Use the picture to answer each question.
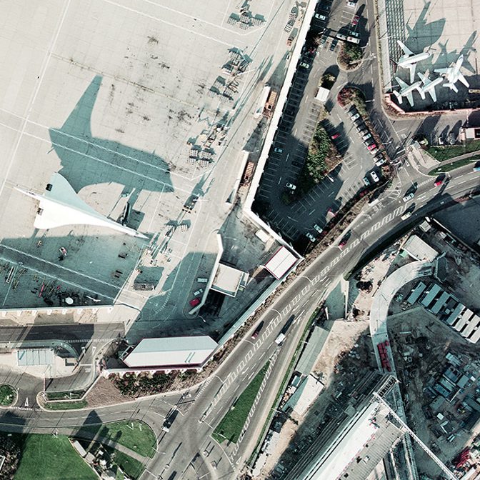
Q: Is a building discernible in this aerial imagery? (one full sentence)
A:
Yes, there's a building here.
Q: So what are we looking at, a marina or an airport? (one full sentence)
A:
This looks like an airport.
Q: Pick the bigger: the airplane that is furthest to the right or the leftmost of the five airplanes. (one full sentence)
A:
The leftmost of the five airplanes covers a greater area than the airplane that is furthest to the right.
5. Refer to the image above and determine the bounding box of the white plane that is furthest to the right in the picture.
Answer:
[436,56,469,90]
